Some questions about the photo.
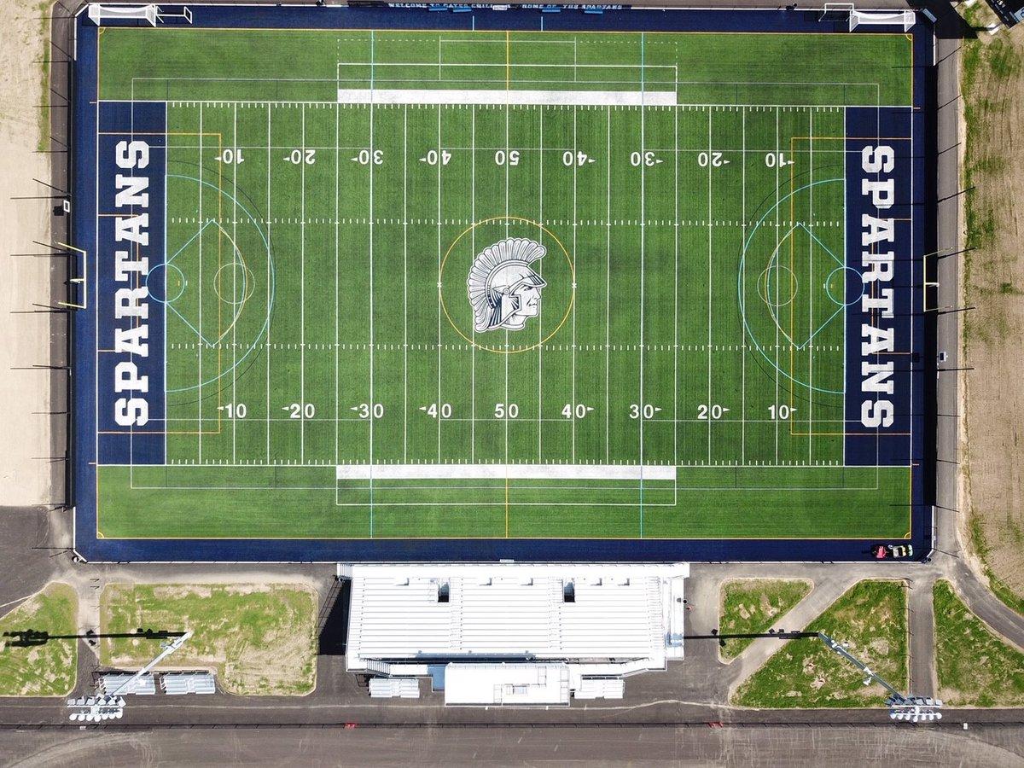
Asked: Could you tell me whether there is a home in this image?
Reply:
No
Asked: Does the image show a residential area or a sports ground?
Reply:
sports ground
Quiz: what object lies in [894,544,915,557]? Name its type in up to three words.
vehicle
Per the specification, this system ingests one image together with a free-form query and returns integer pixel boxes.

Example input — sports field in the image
[74,4,933,562]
